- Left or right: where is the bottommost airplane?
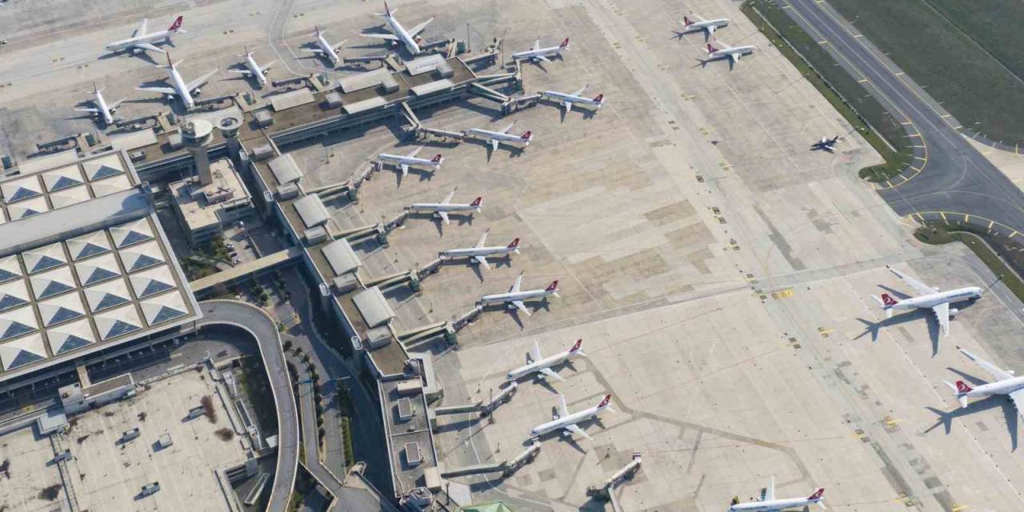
right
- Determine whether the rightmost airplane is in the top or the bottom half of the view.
bottom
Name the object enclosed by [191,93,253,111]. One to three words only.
jet bridge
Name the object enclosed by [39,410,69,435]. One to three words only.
building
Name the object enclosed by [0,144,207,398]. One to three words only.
building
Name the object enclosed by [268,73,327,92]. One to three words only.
jet bridge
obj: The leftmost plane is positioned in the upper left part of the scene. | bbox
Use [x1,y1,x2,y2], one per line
[78,84,127,124]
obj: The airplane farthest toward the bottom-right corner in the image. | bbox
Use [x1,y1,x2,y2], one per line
[947,343,1024,417]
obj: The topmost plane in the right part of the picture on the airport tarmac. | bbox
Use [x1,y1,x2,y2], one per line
[682,12,730,34]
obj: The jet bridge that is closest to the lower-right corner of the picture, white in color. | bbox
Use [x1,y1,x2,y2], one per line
[605,456,644,512]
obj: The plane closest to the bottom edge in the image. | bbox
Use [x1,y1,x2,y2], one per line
[730,471,823,512]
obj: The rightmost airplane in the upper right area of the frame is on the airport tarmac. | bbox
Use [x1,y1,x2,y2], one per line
[813,131,840,146]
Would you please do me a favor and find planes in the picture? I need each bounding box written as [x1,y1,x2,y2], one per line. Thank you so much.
[707,39,756,63]
[531,390,614,442]
[508,336,584,382]
[730,471,823,512]
[482,271,559,314]
[513,37,570,62]
[469,122,530,150]
[411,186,480,222]
[106,14,189,53]
[545,84,604,110]
[813,131,840,146]
[682,12,730,34]
[947,343,1024,417]
[305,30,348,65]
[441,231,514,270]
[878,263,984,333]
[363,6,434,56]
[135,56,216,112]
[78,84,127,124]
[379,143,442,174]
[233,50,278,86]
